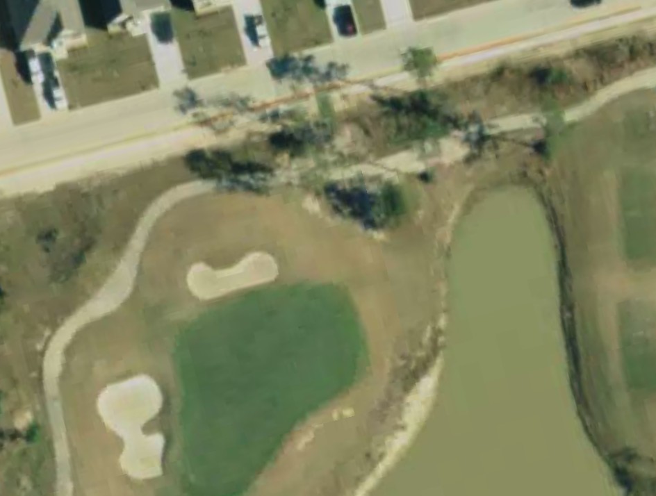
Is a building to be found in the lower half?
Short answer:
No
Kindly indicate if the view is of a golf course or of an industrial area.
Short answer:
golf course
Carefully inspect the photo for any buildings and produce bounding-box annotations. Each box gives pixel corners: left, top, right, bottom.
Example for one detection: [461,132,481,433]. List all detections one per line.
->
[97,0,168,37]
[189,0,253,18]
[0,0,83,54]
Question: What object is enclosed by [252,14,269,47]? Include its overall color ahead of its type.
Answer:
white vehicle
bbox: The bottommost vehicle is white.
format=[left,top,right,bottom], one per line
[52,79,68,112]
